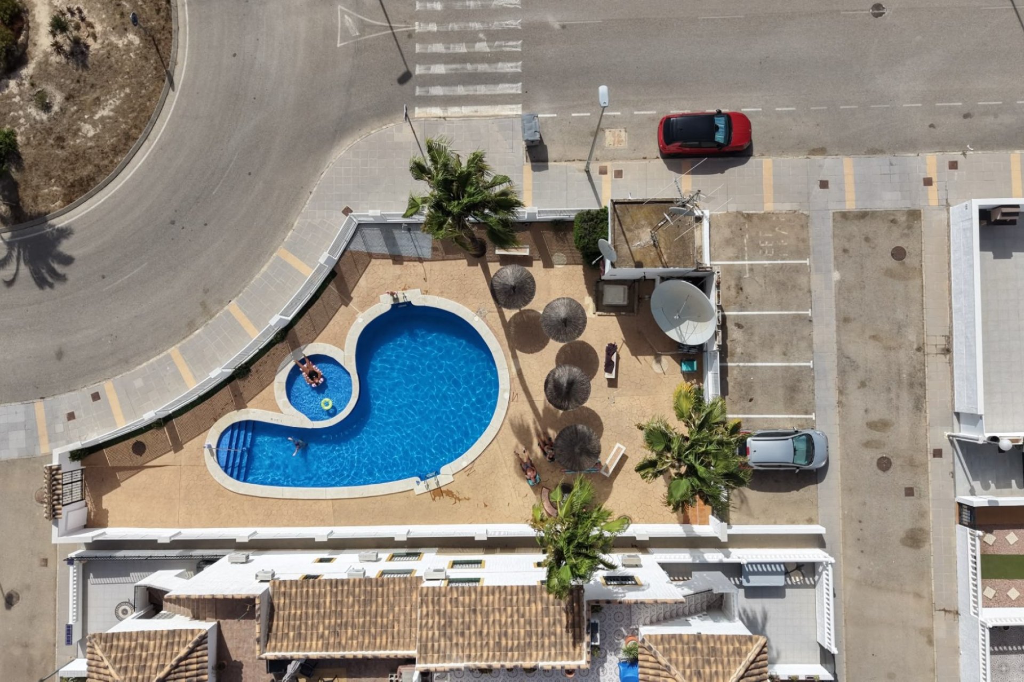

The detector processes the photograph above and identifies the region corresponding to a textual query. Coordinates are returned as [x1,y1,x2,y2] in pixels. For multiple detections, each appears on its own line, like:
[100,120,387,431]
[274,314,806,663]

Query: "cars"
[740,429,832,476]
[658,105,752,155]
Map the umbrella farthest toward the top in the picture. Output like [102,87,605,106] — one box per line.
[489,263,537,313]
